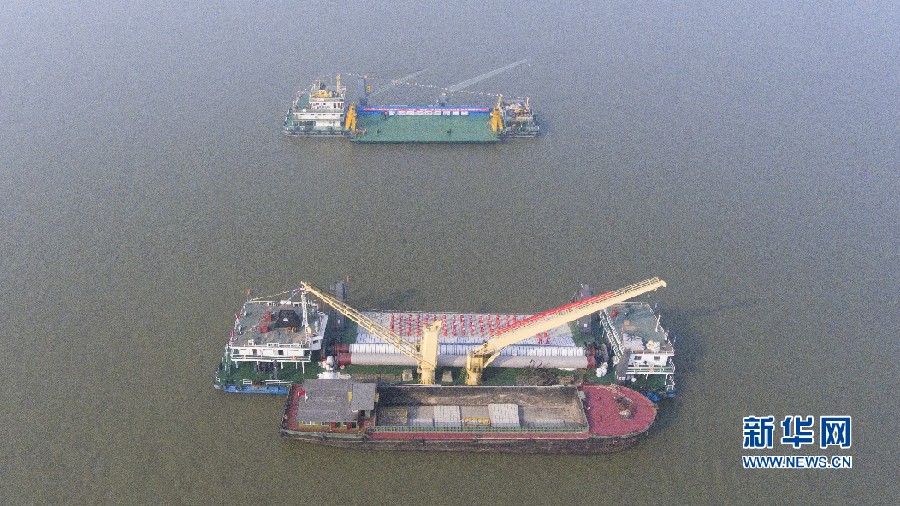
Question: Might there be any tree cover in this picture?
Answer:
No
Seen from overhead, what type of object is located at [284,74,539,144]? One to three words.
vessel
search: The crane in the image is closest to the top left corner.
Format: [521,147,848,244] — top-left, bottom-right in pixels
[359,66,432,106]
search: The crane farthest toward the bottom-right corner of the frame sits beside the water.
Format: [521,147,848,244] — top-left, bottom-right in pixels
[461,276,665,383]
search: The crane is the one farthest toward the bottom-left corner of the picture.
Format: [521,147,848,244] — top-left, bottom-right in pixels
[302,279,445,383]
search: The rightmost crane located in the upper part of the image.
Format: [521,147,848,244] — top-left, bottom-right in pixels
[437,58,532,107]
